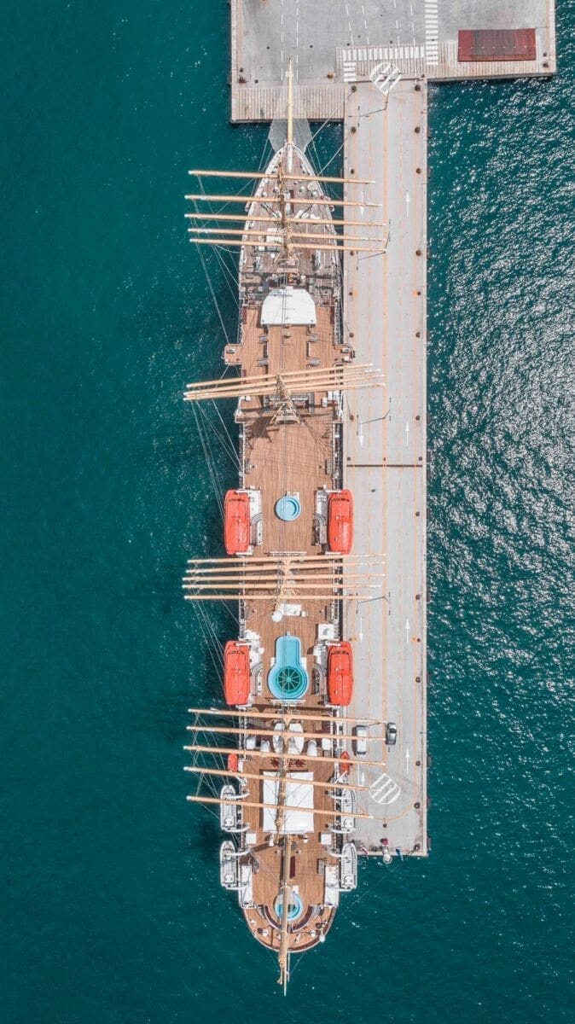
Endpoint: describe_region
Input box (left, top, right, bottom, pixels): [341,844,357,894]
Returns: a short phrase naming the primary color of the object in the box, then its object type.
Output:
white boat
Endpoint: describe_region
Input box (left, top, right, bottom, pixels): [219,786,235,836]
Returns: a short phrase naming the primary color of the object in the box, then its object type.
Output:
white boat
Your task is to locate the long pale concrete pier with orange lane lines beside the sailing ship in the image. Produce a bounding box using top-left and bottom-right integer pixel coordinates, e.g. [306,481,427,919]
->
[343,62,431,856]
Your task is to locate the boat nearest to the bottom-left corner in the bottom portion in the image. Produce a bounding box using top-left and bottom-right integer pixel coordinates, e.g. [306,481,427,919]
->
[219,841,235,892]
